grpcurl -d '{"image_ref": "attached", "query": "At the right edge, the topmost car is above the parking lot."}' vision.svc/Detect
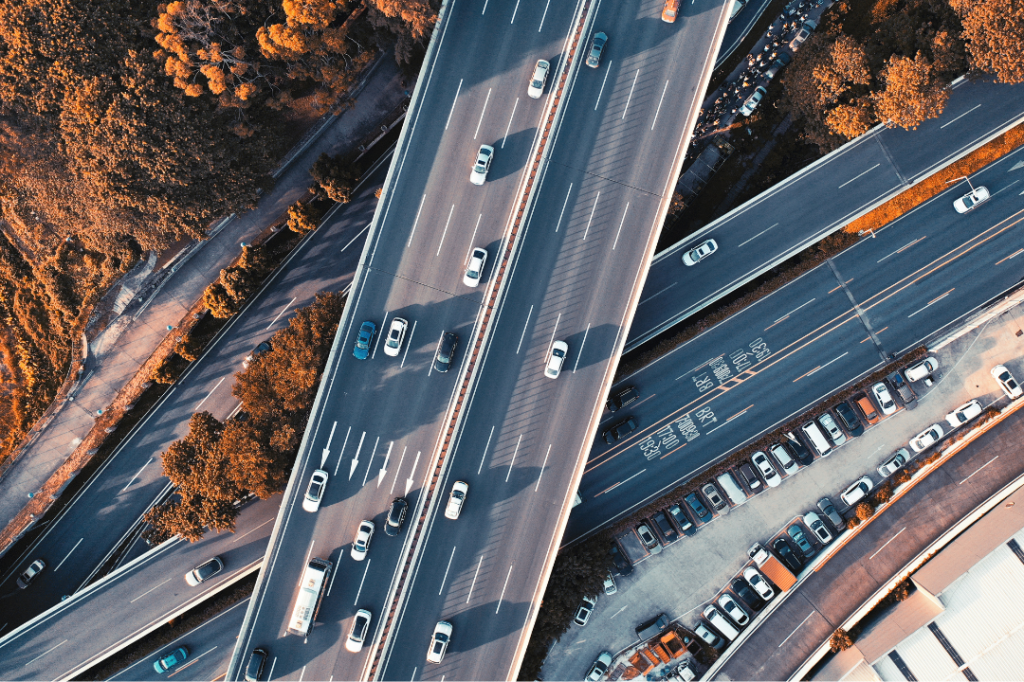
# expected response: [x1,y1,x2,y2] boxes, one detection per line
[950,184,990,213]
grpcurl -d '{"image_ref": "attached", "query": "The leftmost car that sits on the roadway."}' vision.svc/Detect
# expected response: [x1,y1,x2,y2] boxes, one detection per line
[16,555,48,590]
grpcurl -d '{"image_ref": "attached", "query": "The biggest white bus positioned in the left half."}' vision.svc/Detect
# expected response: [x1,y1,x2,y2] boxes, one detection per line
[284,553,332,646]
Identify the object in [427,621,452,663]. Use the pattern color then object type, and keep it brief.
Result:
white car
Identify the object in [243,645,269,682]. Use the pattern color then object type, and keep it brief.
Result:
black car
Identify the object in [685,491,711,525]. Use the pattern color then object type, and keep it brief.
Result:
blue car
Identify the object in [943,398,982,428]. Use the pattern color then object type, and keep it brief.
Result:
white car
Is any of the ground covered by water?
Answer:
No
